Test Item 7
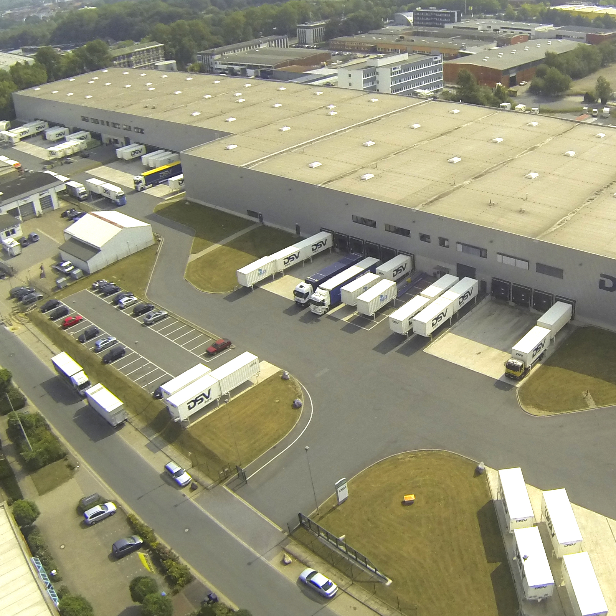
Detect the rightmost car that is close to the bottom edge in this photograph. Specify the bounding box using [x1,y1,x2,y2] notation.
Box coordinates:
[296,569,341,599]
